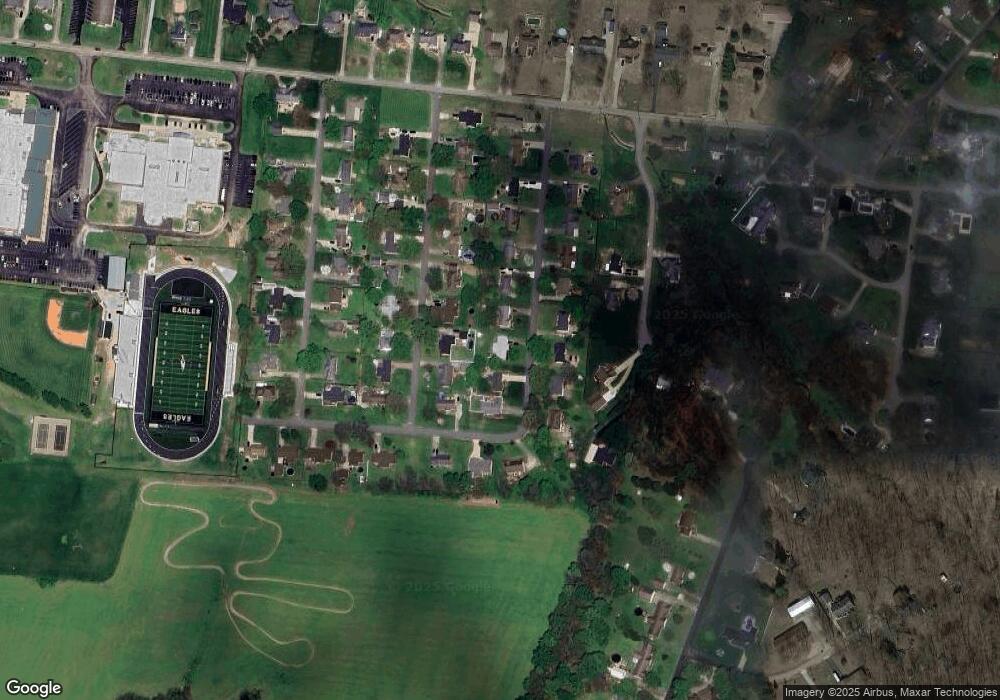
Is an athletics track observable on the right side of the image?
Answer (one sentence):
No, looking on the right side of the image, there is no athletics track.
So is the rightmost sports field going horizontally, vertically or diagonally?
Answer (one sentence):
I'd say the rightmost sports field is aligned vertically in the picture.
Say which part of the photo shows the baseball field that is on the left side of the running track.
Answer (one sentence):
Look in the left portion of the view to spot the baseball field that is on the left side of the running track.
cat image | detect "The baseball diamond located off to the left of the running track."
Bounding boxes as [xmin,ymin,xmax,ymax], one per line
[0,288,100,392]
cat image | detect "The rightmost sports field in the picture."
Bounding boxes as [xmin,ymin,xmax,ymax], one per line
[146,277,221,451]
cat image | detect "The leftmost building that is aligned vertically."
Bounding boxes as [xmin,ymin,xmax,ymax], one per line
[0,107,57,238]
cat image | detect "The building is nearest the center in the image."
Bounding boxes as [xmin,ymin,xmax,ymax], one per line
[493,334,510,364]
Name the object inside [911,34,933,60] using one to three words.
house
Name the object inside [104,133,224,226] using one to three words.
building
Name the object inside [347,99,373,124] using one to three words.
house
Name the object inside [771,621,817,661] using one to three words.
barn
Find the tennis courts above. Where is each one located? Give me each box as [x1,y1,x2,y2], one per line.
[37,424,49,448]
[54,426,66,450]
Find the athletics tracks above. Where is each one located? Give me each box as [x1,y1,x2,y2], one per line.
[136,267,231,462]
